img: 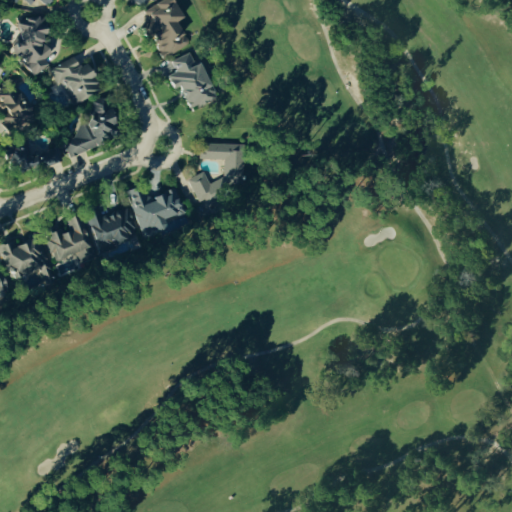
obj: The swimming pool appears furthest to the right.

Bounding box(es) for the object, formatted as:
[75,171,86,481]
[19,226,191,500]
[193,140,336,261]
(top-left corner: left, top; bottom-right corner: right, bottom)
[200,160,220,174]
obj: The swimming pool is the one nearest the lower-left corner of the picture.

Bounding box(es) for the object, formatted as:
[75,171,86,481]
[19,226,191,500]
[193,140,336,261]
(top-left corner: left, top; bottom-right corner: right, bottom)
[58,260,79,272]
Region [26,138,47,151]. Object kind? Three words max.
swimming pool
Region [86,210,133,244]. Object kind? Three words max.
house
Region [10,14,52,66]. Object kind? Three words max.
house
